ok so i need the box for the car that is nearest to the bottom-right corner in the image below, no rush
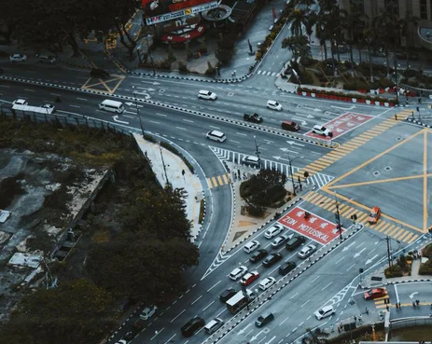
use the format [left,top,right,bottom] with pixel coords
[362,288,387,300]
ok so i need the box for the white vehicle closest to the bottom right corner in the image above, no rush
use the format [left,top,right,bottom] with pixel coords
[314,303,337,322]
